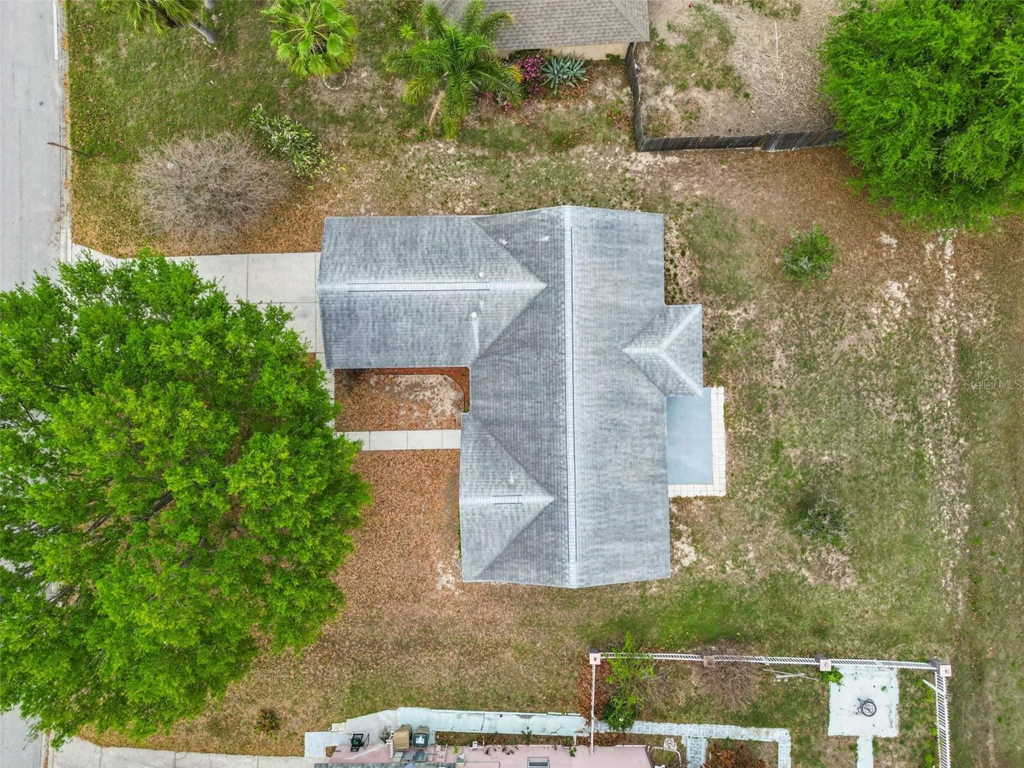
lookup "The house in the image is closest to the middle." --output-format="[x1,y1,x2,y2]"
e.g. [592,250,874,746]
[316,204,705,590]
